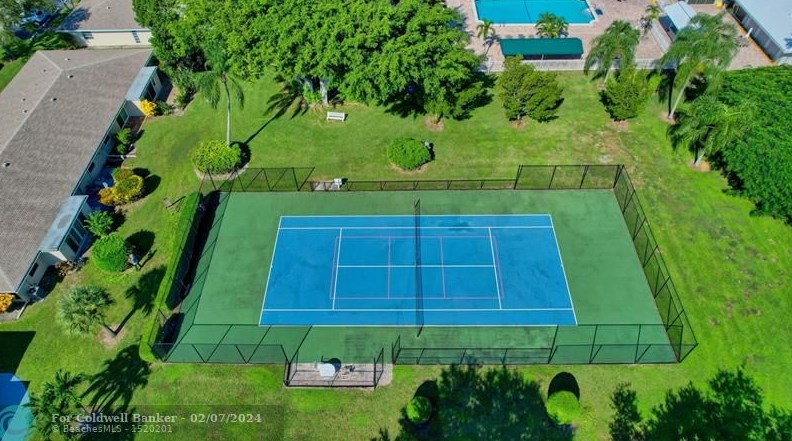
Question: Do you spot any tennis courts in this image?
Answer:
Yes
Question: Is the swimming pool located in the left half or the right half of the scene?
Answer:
right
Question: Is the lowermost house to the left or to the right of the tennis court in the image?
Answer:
on its left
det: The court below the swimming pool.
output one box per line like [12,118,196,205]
[172,189,675,361]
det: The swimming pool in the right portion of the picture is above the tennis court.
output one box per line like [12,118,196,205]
[474,0,599,23]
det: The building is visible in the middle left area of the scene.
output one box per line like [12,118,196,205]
[0,49,163,304]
